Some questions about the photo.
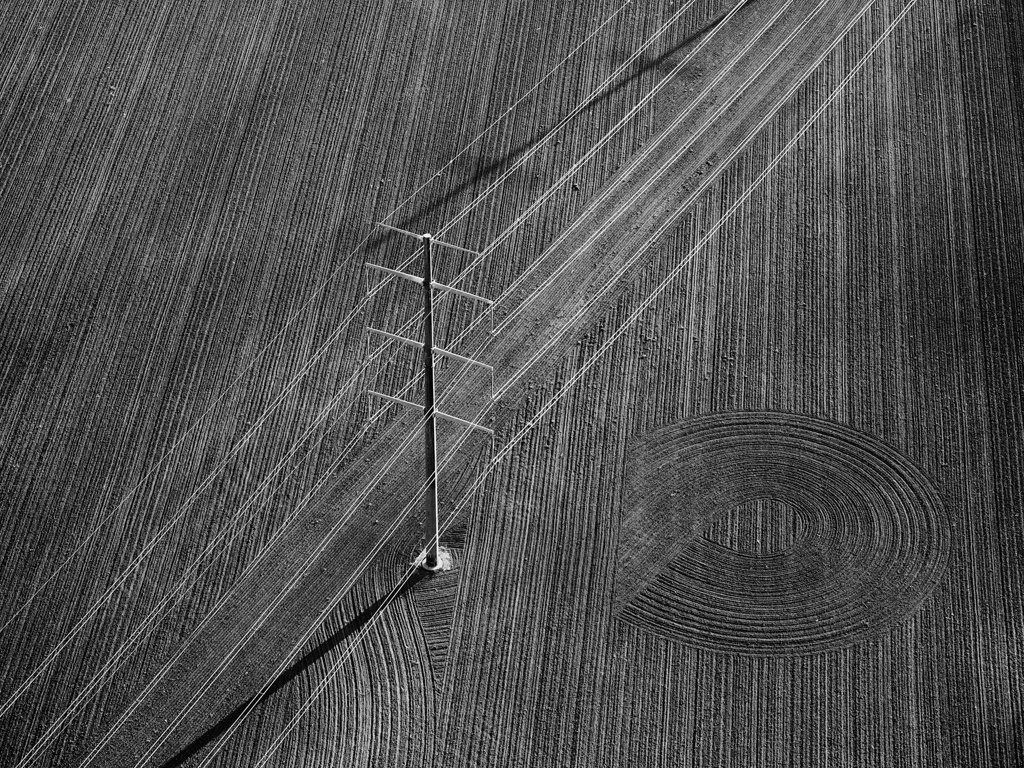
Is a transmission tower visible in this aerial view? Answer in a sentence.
Yes, a transmission tower appears in the view.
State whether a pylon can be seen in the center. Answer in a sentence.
Yes, I can see a pylon in the center.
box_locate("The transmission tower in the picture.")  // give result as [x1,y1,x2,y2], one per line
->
[365,224,497,570]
